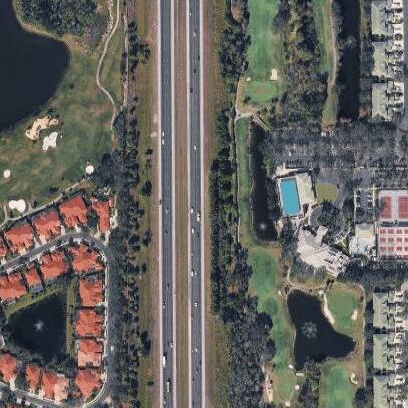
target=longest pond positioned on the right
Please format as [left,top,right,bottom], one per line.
[250,119,281,242]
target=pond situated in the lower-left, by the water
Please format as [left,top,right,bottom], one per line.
[6,292,65,362]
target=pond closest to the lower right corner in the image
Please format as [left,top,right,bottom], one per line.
[288,289,354,370]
